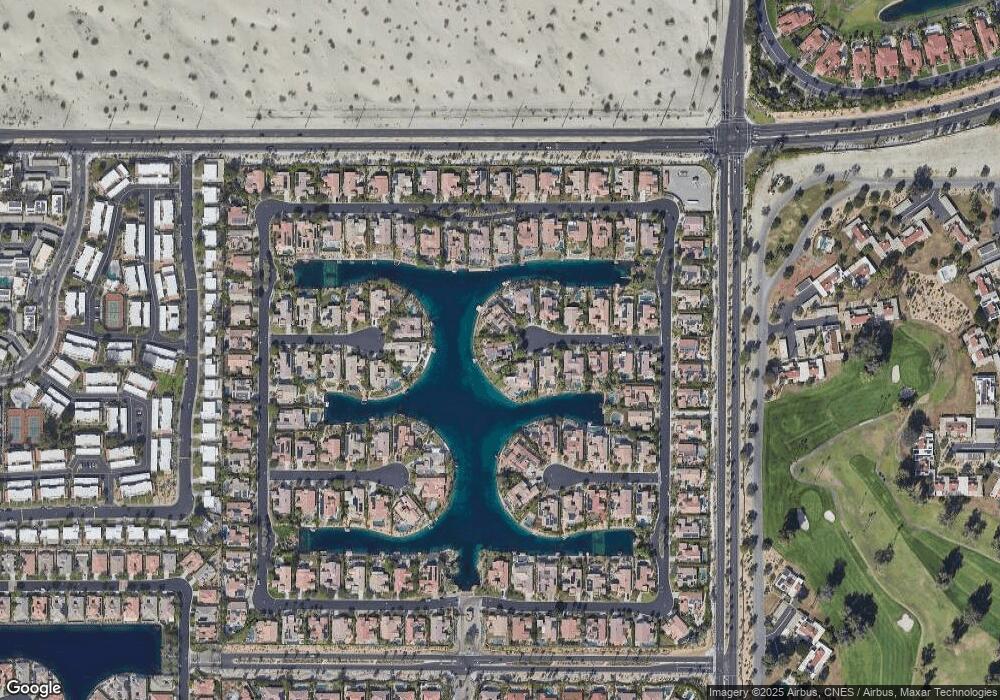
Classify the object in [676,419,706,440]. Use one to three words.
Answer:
house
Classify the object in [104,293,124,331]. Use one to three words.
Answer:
tennis court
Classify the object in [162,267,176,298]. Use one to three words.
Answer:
building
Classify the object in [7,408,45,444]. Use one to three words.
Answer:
tennis court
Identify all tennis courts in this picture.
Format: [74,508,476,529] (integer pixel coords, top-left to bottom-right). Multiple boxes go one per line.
[7,408,45,444]
[104,293,124,331]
